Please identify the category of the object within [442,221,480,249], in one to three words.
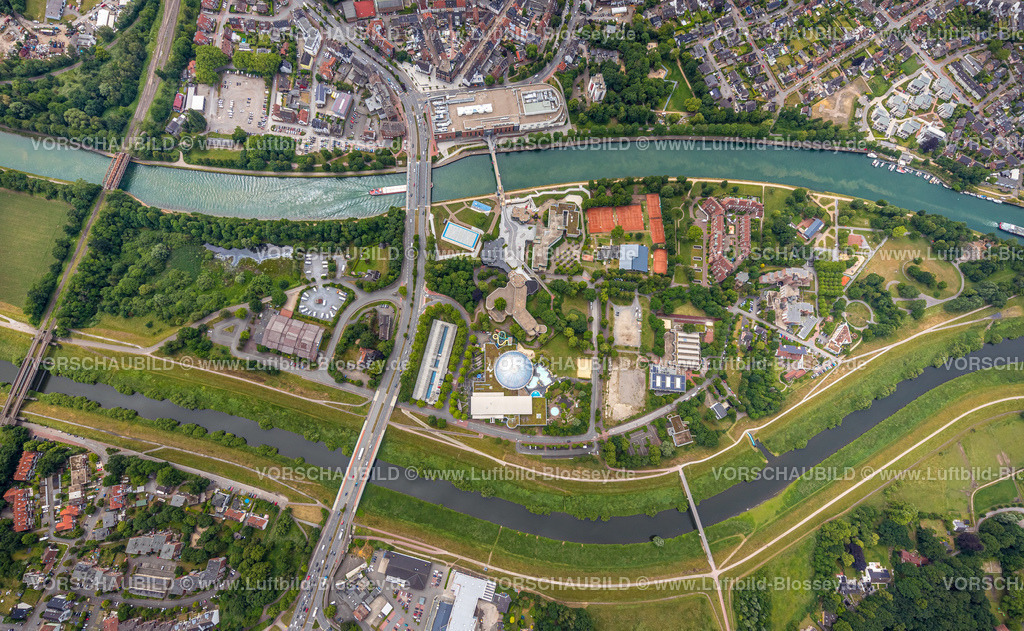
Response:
swimming pool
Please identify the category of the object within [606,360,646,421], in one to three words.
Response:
sports field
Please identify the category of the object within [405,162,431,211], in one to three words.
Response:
bridge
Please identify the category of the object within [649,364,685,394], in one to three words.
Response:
building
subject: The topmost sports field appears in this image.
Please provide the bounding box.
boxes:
[614,310,643,346]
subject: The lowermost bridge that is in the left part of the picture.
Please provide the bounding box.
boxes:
[332,417,389,525]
